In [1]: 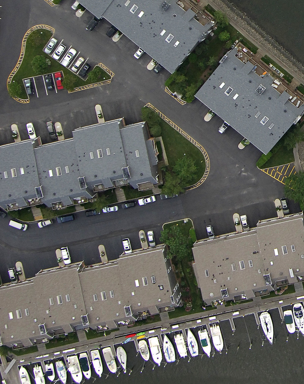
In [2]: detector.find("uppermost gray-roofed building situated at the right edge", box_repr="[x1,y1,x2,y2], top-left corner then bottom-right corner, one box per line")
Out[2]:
[194,46,304,154]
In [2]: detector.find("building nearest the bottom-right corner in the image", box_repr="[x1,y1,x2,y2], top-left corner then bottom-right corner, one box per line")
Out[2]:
[192,216,304,308]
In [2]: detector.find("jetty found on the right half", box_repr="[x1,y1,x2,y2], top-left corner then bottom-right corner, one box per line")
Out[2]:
[133,297,304,341]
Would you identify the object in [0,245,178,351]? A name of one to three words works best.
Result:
building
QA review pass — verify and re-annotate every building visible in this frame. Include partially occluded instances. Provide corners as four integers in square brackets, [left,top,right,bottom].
[194,46,304,154]
[0,121,162,212]
[77,0,215,74]
[192,216,304,308]
[0,245,178,351]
